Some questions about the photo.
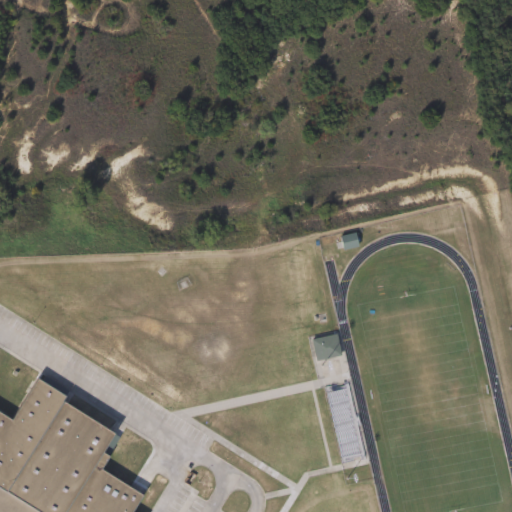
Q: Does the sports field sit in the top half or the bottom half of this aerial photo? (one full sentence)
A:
The bottom half of the photo is where the sports field is.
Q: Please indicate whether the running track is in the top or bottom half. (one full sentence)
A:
The running track sits in the bottom half of the picture.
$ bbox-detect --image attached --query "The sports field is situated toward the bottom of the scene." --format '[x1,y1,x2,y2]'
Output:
[357,284,502,512]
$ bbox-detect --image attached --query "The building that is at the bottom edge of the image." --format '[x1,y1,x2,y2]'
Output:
[0,380,144,512]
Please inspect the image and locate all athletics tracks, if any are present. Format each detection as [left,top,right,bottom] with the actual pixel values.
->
[320,232,512,512]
